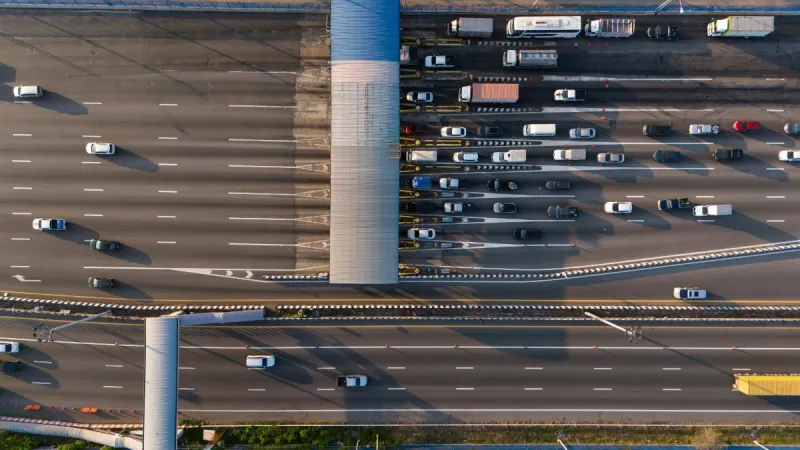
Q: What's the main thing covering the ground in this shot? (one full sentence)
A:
For the most part, this view shows paved ground.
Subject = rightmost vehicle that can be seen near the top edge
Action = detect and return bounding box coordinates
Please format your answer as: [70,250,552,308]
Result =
[705,14,780,37]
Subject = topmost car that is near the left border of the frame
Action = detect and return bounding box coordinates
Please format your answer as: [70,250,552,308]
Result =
[13,84,44,98]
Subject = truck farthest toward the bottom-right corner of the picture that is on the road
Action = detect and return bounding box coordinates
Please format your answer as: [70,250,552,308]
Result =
[737,373,800,395]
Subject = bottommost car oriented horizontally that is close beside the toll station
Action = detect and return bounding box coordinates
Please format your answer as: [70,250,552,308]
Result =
[407,227,435,241]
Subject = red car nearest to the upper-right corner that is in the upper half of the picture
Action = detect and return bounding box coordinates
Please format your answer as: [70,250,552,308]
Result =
[731,120,761,133]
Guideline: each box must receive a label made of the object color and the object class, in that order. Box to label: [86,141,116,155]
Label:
white car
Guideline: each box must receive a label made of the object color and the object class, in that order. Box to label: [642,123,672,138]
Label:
black car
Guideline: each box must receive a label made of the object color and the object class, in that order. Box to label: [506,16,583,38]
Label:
white bus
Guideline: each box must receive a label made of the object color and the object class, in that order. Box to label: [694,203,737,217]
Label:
white vehicle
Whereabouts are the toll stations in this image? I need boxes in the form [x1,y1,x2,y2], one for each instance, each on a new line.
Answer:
[328,0,401,285]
